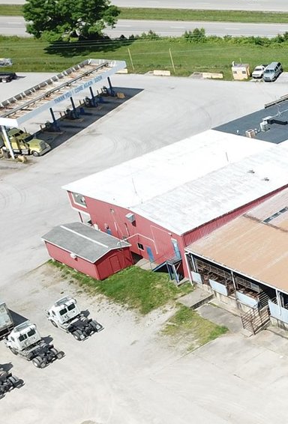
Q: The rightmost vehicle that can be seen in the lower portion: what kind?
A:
truck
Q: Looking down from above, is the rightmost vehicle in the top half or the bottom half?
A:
top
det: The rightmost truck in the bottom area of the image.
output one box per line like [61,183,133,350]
[44,294,104,342]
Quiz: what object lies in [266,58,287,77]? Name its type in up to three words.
vehicle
